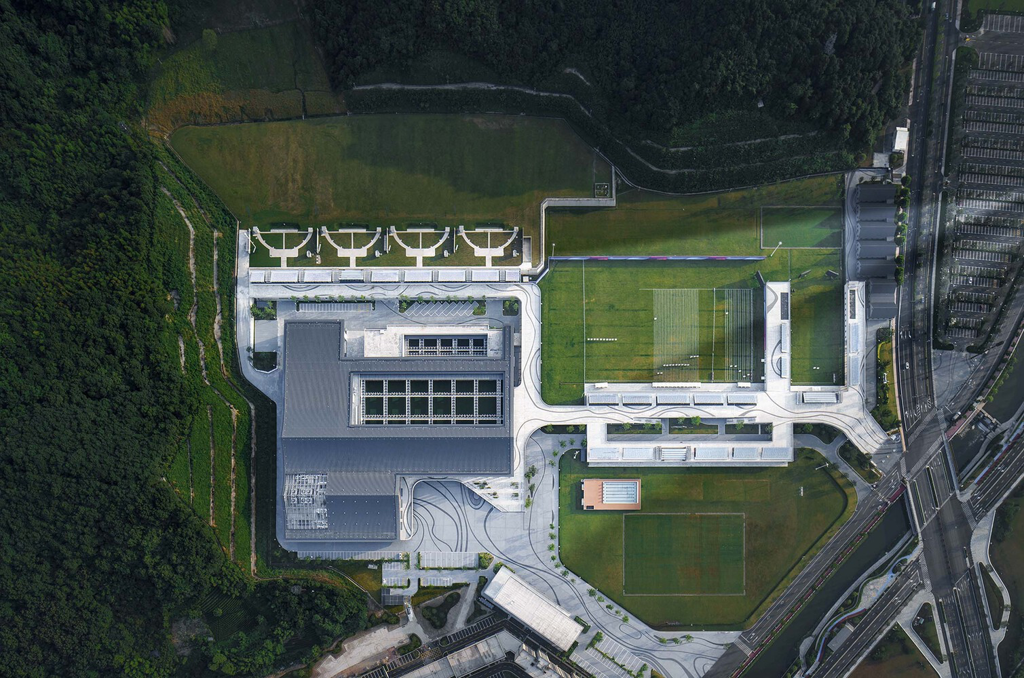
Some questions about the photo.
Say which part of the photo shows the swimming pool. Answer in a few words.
bottom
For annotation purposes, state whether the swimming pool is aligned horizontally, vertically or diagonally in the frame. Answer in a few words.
horizontally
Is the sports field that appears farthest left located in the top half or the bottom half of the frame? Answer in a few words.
top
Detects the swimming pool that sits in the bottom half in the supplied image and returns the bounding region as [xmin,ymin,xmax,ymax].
[581,479,641,510]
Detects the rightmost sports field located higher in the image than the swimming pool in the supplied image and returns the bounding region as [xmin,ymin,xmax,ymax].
[542,173,845,403]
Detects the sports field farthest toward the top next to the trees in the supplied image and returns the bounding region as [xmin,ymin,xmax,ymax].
[171,112,613,266]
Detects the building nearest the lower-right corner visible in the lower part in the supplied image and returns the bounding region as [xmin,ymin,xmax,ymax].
[825,623,854,652]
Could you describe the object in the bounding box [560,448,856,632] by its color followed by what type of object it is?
green sports field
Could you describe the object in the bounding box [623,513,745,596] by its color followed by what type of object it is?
green soccer field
